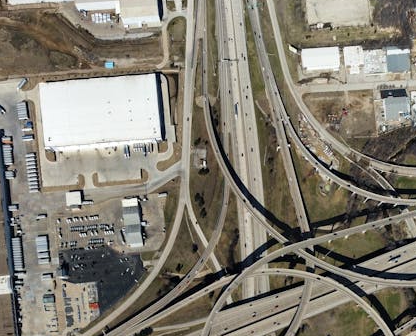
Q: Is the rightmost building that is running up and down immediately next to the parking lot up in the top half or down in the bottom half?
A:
bottom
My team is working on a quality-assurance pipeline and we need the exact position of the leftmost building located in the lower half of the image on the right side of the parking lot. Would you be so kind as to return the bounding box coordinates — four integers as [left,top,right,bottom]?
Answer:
[122,198,145,248]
